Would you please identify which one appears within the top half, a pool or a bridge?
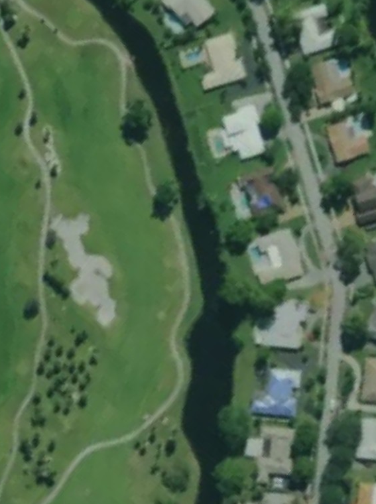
pool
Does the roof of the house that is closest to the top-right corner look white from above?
Yes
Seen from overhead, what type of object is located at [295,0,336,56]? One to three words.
house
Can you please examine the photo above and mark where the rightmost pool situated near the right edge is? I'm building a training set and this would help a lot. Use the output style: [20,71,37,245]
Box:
[348,116,373,137]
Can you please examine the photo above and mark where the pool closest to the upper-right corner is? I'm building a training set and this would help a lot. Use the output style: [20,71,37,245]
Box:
[329,59,351,78]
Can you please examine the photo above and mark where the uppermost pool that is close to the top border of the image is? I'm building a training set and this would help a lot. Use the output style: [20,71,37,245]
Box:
[164,10,184,34]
